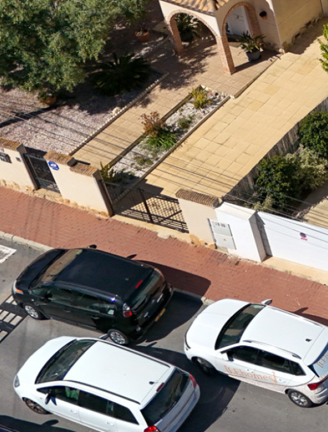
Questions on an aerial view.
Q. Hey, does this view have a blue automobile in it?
No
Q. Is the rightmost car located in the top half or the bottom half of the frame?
bottom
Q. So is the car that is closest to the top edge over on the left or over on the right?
left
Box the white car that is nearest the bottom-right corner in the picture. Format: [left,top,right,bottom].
[183,297,328,412]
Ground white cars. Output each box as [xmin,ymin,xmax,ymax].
[183,297,328,412]
[13,333,205,432]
